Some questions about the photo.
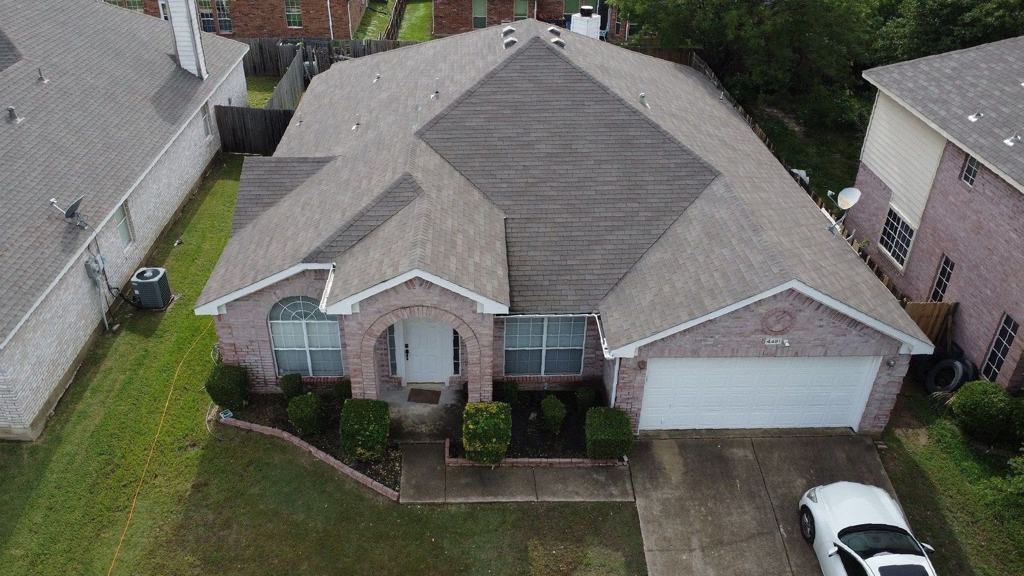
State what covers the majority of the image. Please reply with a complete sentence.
The scene is dominated by buildings.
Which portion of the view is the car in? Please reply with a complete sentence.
You can find the car in the bottom right area of the picture.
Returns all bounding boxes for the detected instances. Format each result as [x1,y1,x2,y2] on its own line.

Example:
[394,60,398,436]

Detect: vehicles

[794,483,939,576]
